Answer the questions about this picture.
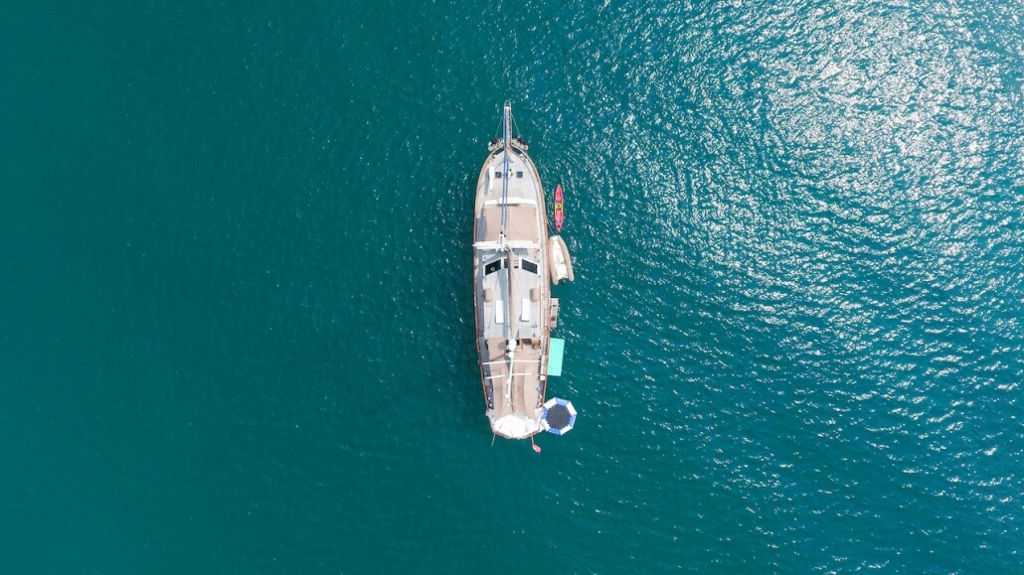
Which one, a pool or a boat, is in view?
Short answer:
boat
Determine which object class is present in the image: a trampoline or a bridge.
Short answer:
trampoline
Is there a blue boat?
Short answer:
No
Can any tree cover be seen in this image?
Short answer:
No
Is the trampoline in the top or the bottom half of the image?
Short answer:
bottom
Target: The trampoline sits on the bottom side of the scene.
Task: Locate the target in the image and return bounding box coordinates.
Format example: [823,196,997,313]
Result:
[539,398,576,434]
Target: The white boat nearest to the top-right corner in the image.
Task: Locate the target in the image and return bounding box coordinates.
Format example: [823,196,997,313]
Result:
[549,235,574,284]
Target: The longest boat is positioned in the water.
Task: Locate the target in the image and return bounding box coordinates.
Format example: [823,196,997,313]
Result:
[473,99,560,451]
